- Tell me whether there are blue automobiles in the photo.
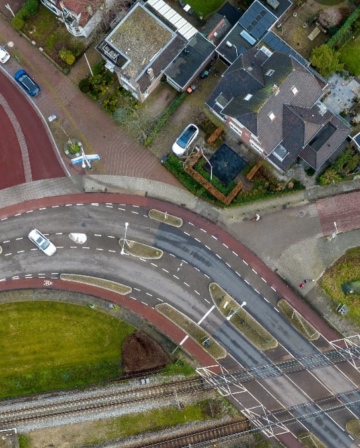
Yes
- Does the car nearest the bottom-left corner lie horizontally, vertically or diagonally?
diagonally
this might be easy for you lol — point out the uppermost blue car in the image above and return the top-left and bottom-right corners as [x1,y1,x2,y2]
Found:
[13,69,41,98]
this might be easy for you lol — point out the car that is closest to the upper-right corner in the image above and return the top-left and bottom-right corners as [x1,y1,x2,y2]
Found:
[173,124,199,155]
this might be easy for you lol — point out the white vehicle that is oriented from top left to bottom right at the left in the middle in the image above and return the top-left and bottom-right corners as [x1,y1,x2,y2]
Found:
[27,229,58,256]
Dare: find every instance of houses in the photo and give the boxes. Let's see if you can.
[205,41,352,177]
[41,0,127,46]
[95,0,188,103]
